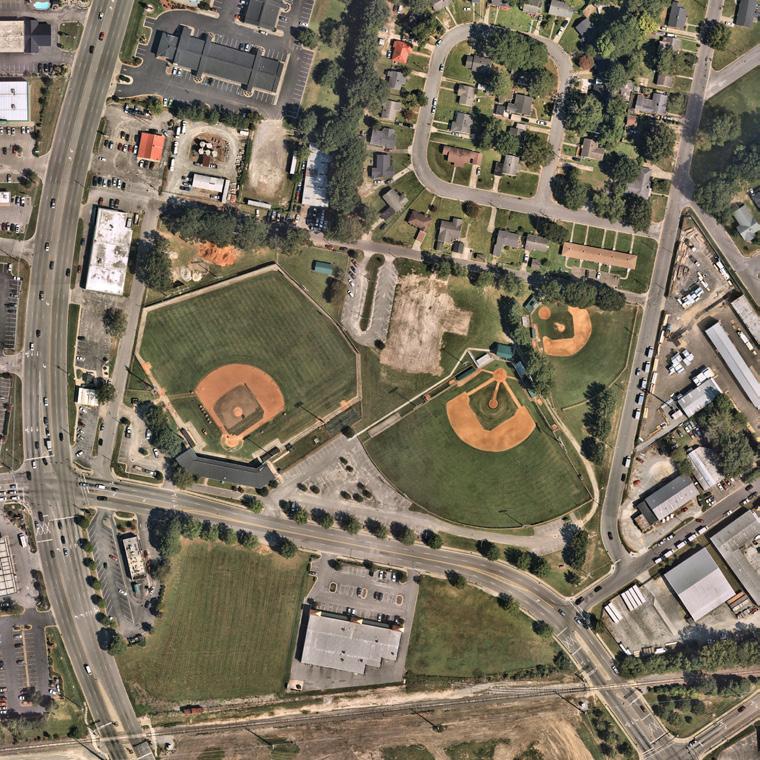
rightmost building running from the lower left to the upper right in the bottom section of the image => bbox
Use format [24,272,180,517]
[712,510,760,554]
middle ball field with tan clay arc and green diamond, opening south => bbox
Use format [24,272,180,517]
[364,362,592,527]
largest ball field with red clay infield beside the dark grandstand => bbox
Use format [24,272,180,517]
[136,262,361,468]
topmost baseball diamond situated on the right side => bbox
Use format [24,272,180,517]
[533,304,635,406]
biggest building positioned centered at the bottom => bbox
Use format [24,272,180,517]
[301,616,402,675]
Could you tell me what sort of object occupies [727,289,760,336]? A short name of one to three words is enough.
shed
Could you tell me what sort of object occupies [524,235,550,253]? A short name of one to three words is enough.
house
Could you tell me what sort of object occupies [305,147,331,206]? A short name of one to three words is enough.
building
